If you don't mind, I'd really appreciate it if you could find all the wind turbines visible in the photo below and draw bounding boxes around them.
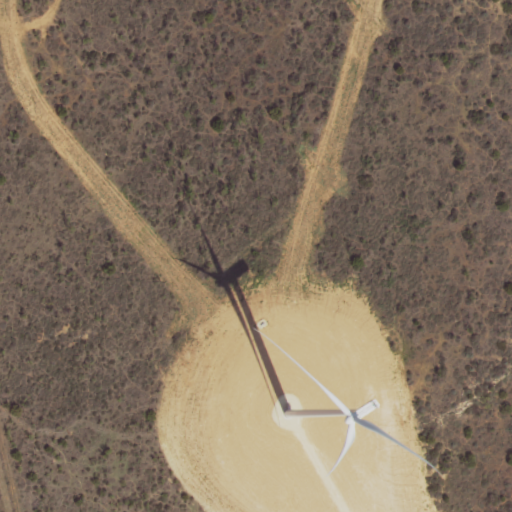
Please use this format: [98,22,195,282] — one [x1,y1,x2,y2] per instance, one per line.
[255,328,442,477]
